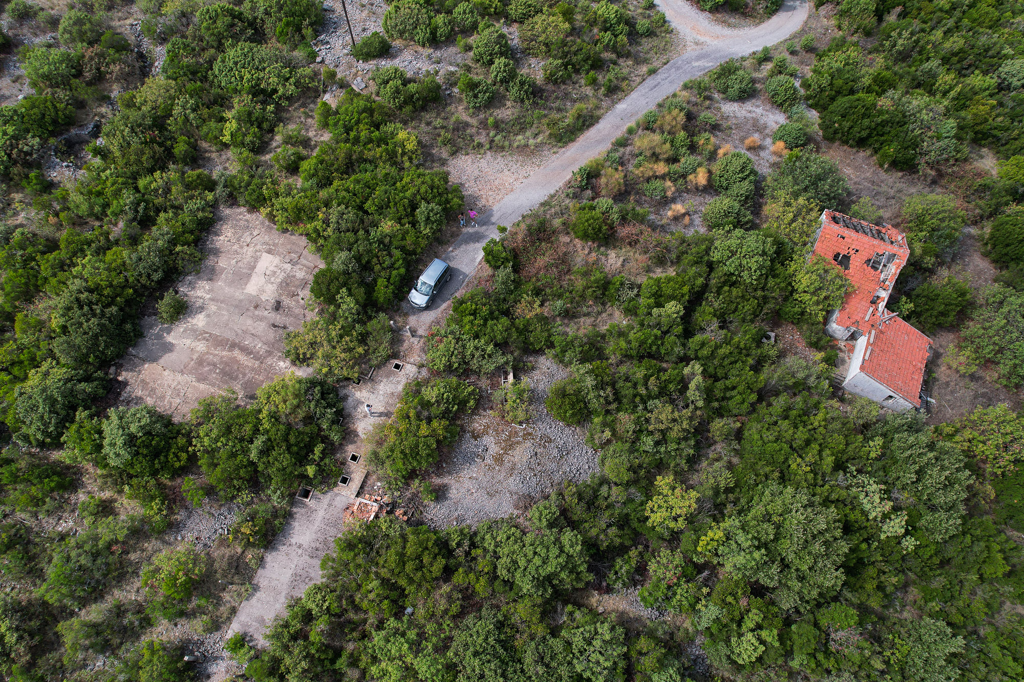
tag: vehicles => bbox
[407,258,455,310]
